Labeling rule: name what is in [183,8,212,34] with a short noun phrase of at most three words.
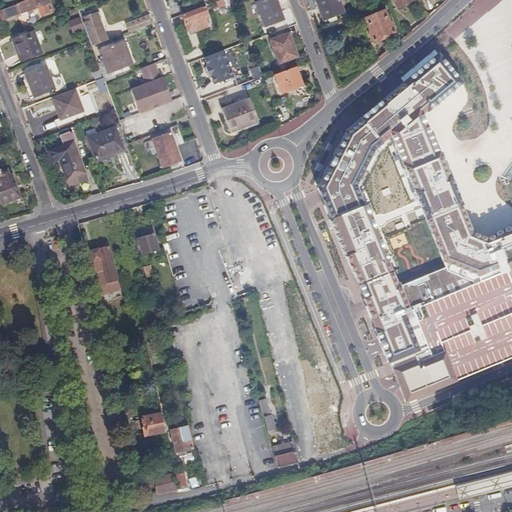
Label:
house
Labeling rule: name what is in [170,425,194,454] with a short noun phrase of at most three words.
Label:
house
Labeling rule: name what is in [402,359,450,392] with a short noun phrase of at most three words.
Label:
building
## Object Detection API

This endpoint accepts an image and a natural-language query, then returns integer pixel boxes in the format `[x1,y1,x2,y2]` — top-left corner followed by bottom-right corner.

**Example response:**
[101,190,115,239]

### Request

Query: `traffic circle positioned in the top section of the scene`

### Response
[247,136,305,194]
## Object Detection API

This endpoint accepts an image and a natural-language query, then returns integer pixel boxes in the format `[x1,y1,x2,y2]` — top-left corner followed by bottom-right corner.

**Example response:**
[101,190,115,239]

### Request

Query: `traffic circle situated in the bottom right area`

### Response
[352,388,404,439]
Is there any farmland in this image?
No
